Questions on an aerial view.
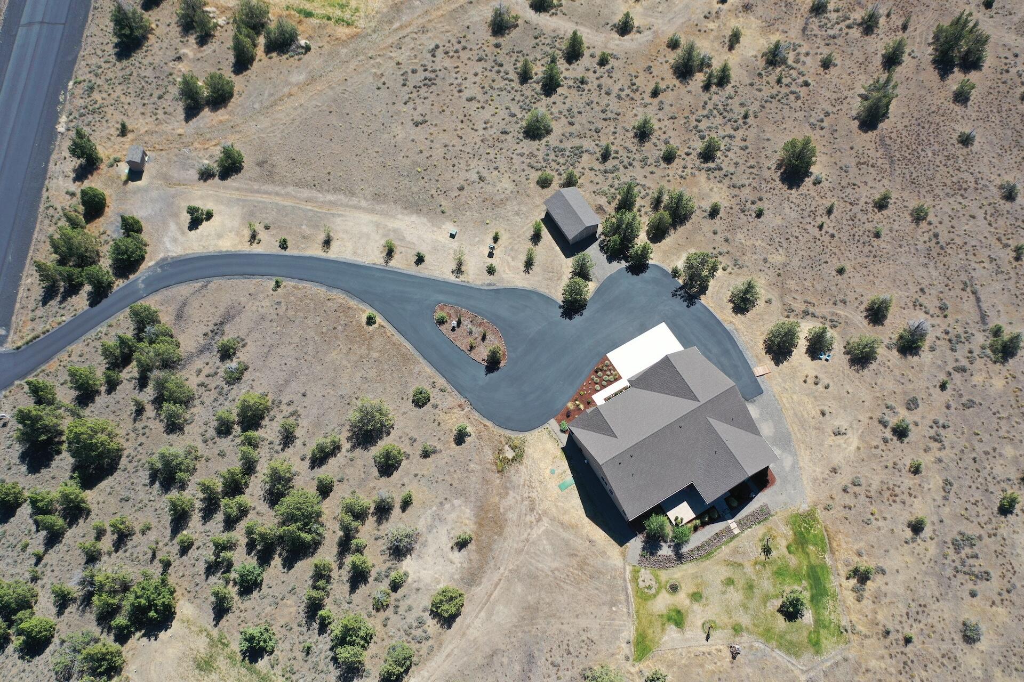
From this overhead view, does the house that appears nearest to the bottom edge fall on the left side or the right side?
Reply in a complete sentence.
You can find the house that appears nearest to the bottom edge on the right side of the picture.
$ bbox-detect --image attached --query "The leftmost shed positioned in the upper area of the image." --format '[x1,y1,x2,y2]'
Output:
[124,145,153,171]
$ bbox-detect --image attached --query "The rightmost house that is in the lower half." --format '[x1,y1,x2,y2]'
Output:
[566,342,782,524]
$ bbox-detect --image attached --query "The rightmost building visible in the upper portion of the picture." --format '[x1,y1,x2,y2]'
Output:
[544,187,602,246]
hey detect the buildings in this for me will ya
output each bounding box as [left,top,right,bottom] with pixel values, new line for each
[566,342,782,524]
[124,145,153,171]
[544,187,602,246]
